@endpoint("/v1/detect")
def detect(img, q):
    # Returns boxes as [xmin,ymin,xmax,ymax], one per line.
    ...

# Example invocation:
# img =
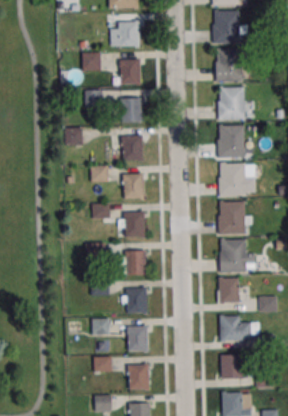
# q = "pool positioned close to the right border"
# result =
[258,136,274,152]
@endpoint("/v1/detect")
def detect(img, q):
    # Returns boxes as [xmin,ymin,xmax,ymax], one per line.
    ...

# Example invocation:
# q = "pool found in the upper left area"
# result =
[66,68,84,86]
